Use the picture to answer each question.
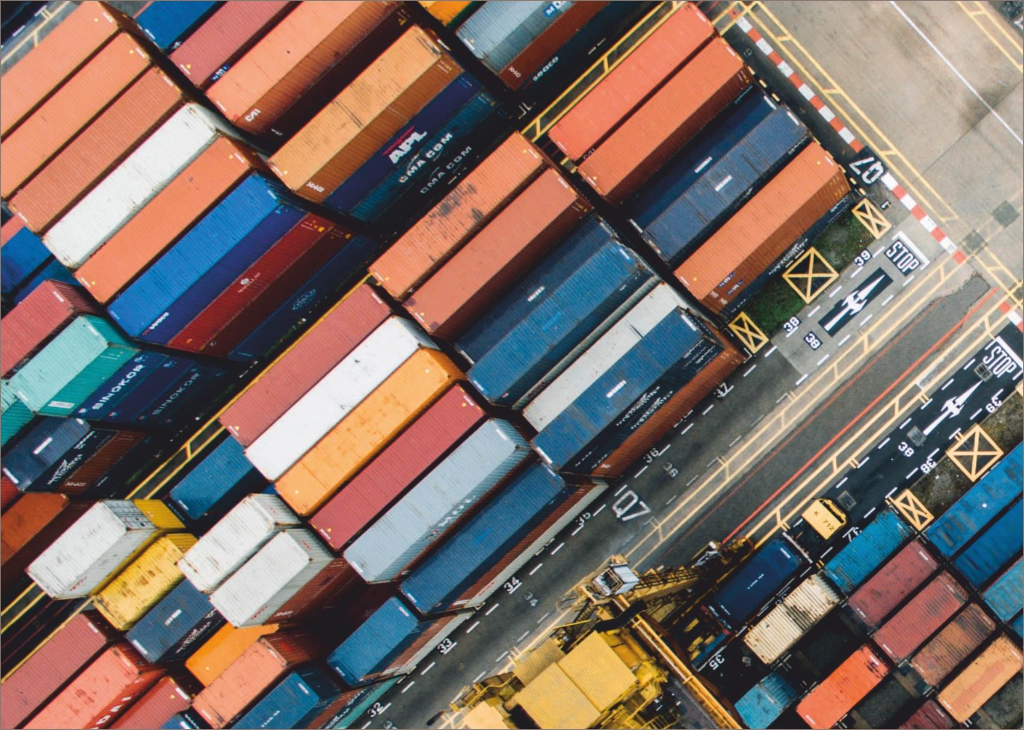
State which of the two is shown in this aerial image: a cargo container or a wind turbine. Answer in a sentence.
It is a cargo container that can be seen here.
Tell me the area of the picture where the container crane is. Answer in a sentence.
The container crane appears toward the bottom of the photo.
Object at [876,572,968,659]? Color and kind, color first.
red shipping container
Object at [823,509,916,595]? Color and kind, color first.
blue shipping container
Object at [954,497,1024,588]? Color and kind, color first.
blue shipping container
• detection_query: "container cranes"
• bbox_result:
[439,537,757,730]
